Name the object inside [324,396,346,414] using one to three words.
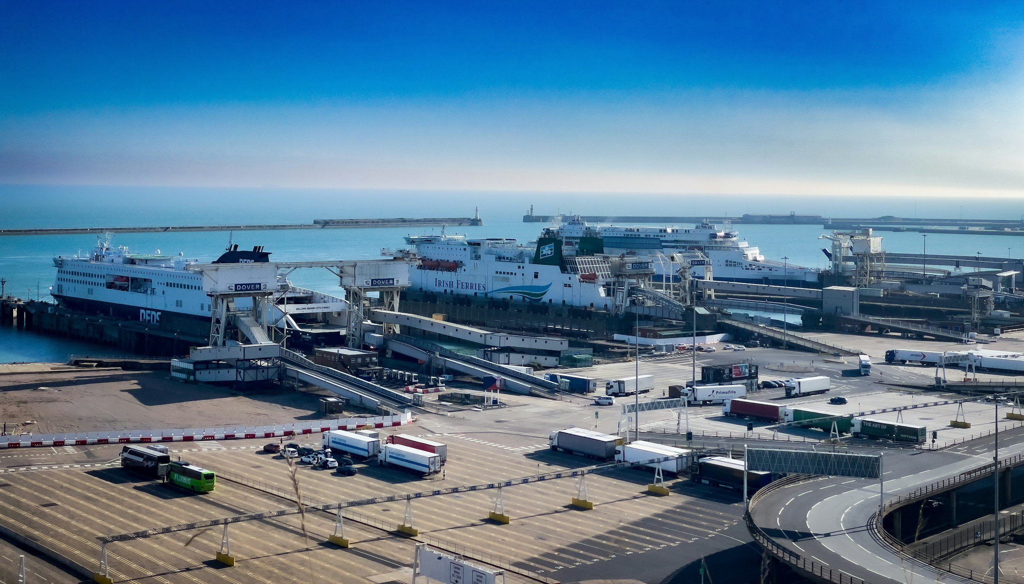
building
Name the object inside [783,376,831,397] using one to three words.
truck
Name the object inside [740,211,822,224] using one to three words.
shed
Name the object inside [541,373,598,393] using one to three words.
vehicle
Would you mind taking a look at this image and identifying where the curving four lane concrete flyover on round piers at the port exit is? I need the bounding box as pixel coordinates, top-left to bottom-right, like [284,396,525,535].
[609,422,1024,584]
